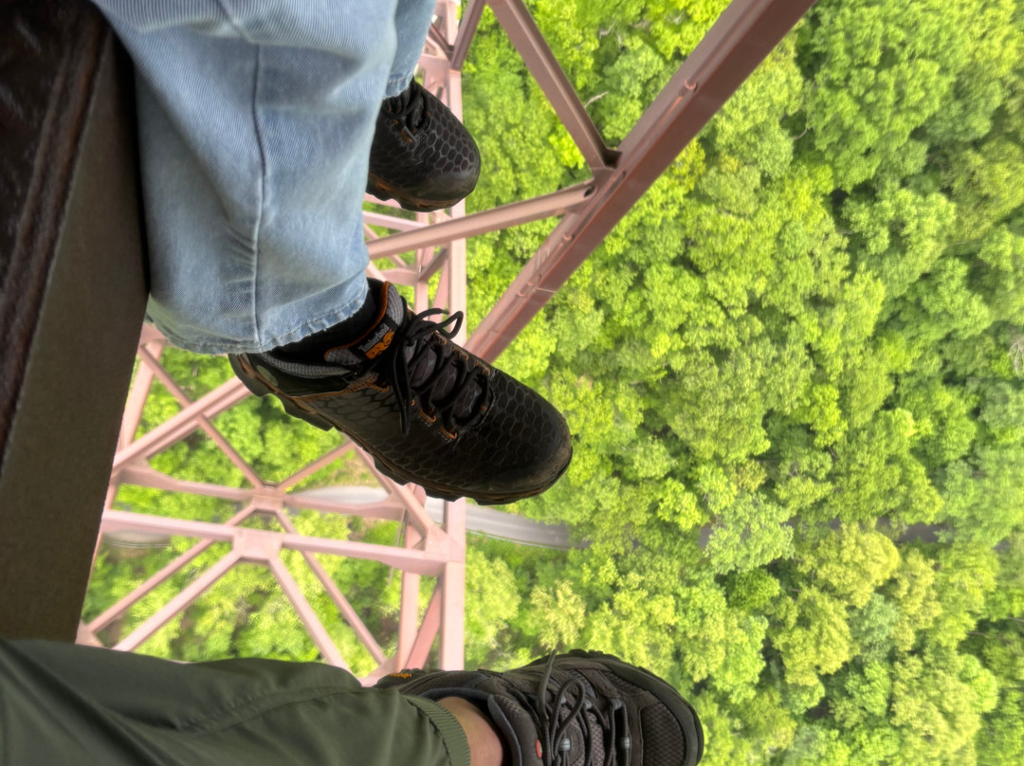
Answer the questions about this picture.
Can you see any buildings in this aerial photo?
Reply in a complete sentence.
No, I can see no building in this picture.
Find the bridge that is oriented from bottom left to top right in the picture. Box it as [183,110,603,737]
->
[71,0,816,669]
